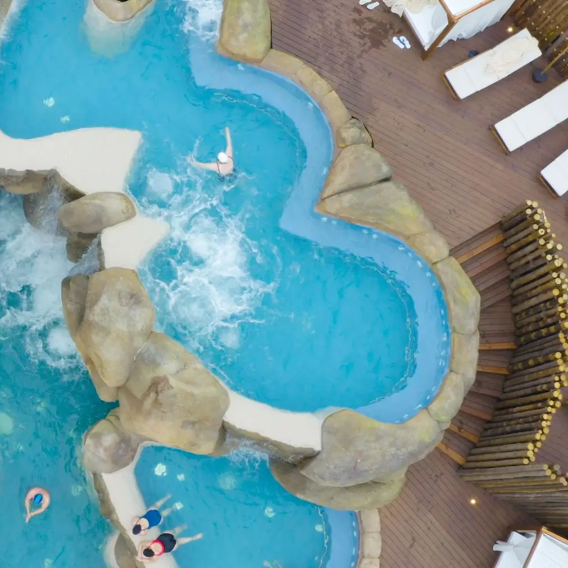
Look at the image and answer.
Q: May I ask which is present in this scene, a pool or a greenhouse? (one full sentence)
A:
I can see a pool in this picture.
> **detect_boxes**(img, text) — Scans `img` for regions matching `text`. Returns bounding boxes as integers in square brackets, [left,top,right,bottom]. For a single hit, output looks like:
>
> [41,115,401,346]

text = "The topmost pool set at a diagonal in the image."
[0,0,446,423]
